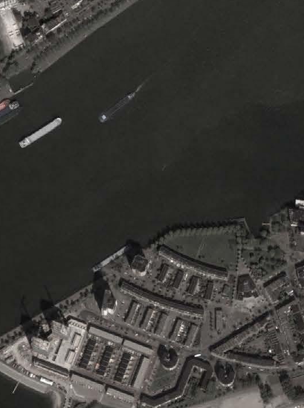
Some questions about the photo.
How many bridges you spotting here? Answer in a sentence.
There are no bridges in the image.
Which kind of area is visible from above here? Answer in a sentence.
It's a residential area.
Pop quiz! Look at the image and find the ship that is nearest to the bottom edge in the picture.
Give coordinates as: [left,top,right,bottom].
[20,119,61,147]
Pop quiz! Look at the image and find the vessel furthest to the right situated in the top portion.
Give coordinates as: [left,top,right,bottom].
[99,93,136,121]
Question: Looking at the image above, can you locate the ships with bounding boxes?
[0,99,10,108]
[20,119,61,147]
[99,93,136,121]
[0,104,20,120]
